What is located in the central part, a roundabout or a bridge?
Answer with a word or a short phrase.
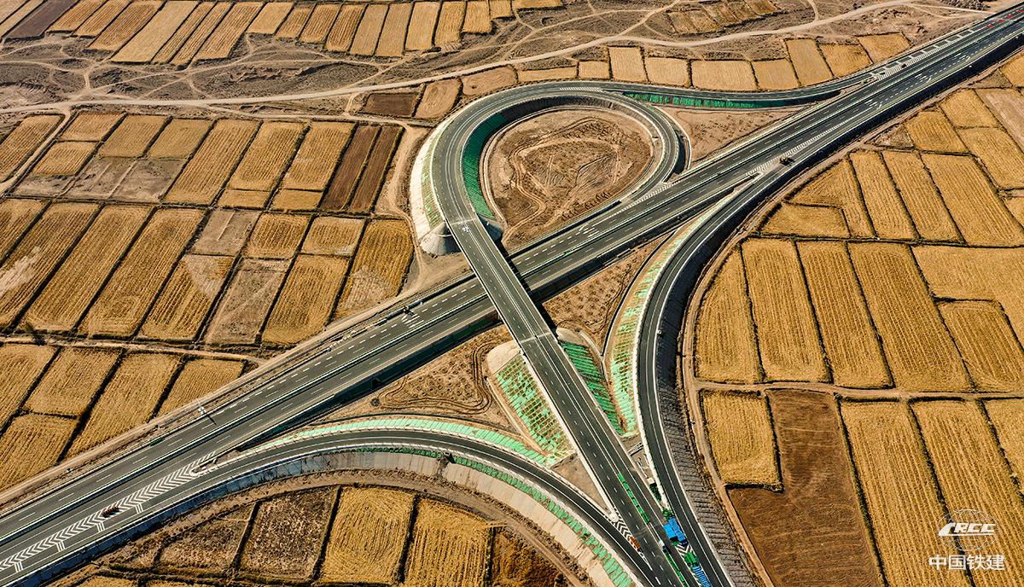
bridge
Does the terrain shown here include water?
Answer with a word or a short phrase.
No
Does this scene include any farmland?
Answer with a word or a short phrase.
Yes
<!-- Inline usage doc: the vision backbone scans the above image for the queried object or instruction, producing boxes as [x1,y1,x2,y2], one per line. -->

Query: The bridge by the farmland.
[420,216,582,371]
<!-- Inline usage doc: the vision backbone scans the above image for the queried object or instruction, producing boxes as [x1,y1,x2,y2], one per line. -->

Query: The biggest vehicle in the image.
[657,536,670,552]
